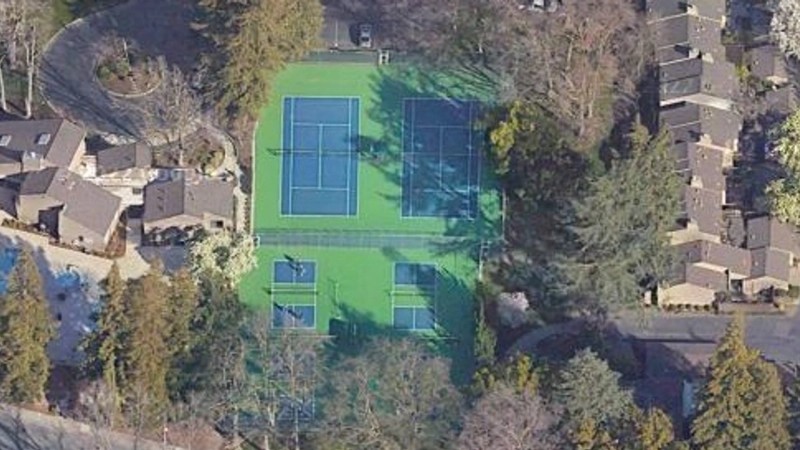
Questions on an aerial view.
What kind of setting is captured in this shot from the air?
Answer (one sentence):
What you see here is a residential area.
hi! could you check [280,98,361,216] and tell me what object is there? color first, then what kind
blue tennis court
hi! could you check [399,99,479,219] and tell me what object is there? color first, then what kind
blue tennis court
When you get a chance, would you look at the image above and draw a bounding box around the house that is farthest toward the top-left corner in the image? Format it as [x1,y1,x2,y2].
[0,119,88,183]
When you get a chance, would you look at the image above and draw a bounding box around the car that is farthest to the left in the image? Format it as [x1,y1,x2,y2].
[358,27,373,51]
